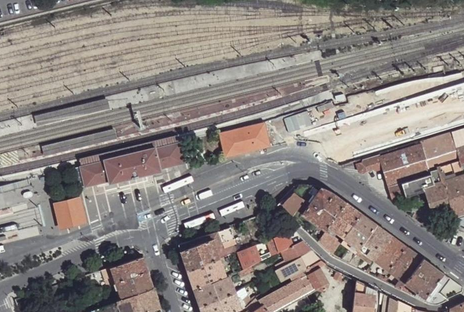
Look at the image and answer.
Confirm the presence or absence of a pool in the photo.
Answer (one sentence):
No, there is no pool in the image.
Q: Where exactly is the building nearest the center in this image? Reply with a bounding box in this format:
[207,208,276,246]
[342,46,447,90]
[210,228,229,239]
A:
[219,122,272,160]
